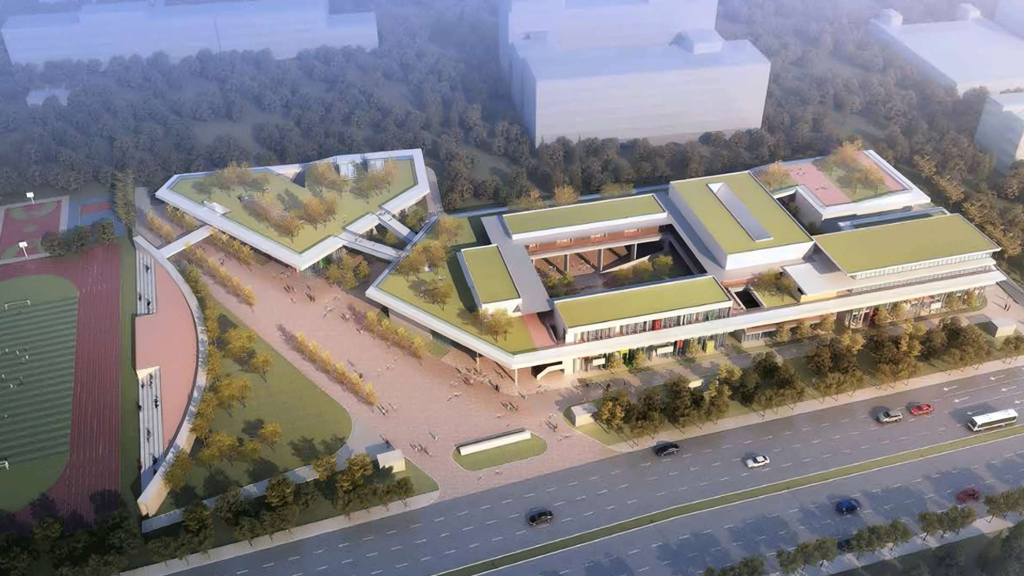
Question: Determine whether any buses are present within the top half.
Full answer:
No, I can find no bus within the top half.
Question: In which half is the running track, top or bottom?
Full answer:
The running track sits in the bottom half of the picture.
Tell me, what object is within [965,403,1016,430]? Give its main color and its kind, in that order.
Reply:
white bus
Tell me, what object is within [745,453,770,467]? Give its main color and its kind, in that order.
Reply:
white car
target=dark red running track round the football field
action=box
[0,240,122,565]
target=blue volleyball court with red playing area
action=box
[68,189,127,242]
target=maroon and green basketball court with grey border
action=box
[0,196,71,264]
